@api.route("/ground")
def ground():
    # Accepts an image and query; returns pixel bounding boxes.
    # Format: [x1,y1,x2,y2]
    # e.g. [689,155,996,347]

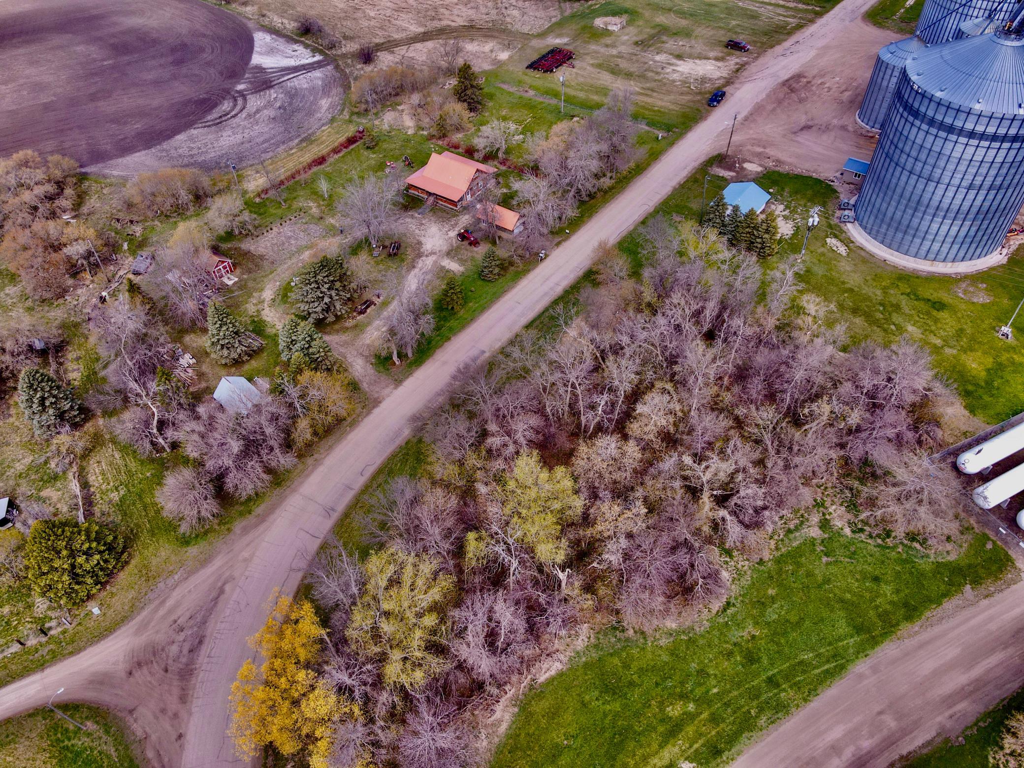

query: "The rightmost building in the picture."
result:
[842,159,873,188]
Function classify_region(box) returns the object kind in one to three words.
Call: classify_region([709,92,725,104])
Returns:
vehicle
